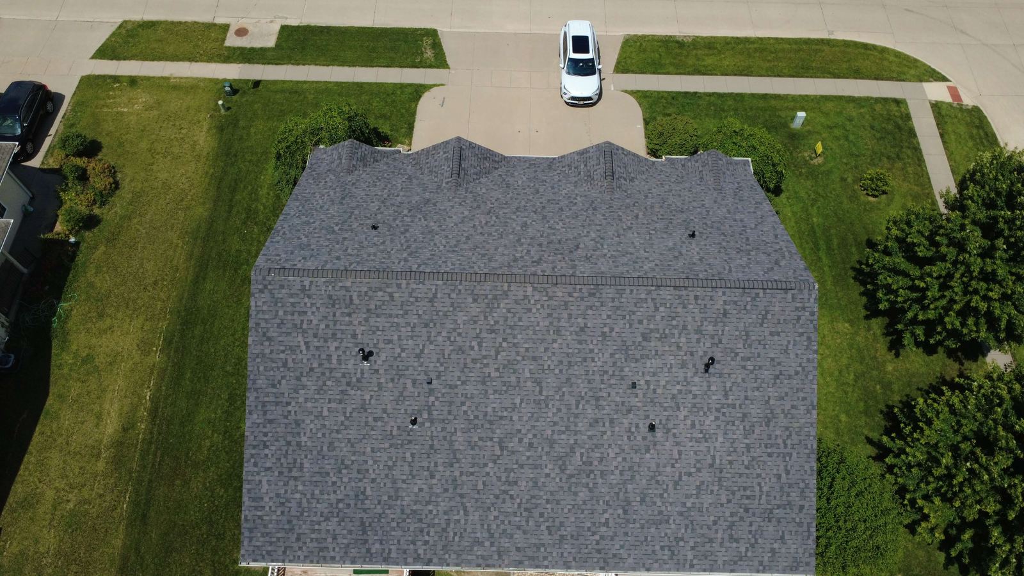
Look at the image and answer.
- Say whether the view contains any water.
No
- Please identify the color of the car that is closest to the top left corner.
black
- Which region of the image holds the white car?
top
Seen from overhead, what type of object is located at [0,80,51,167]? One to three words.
car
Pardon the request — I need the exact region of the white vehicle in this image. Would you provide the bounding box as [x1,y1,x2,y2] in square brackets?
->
[558,23,603,106]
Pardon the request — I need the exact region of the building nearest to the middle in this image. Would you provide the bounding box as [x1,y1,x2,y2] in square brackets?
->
[239,133,818,576]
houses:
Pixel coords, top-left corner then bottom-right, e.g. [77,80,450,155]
[239,133,818,576]
[0,140,38,356]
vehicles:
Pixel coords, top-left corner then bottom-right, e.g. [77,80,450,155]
[0,80,51,167]
[558,23,603,106]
